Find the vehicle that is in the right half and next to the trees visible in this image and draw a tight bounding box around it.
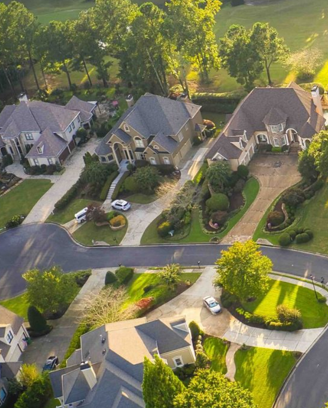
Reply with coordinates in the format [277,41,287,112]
[202,292,221,316]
